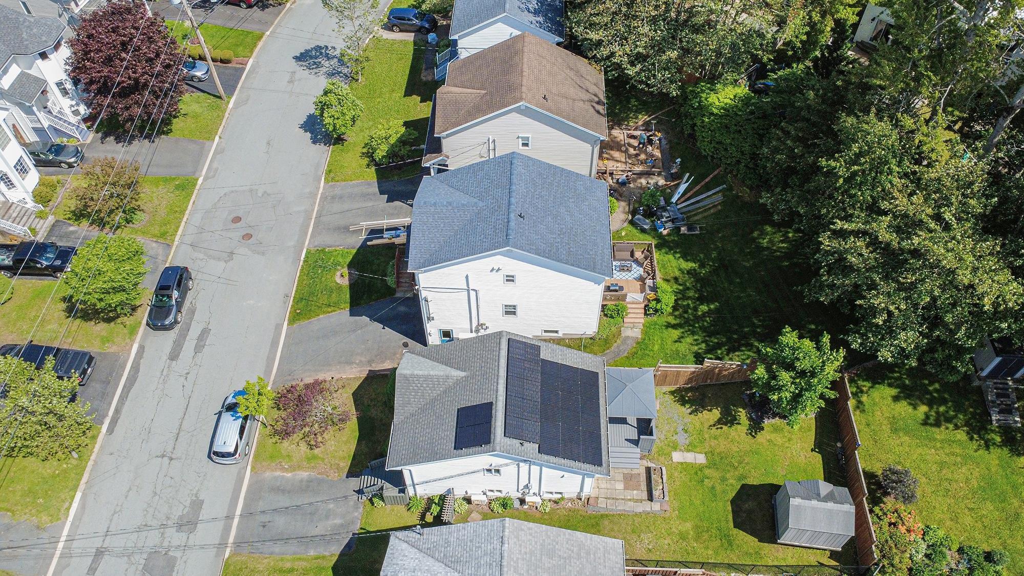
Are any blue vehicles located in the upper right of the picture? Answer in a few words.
No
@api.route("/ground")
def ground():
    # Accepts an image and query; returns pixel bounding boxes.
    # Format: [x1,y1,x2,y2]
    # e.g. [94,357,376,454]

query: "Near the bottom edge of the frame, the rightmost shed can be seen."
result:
[773,485,859,553]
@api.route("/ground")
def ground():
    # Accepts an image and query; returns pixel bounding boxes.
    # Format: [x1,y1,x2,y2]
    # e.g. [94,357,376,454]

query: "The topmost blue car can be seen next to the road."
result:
[384,4,436,31]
